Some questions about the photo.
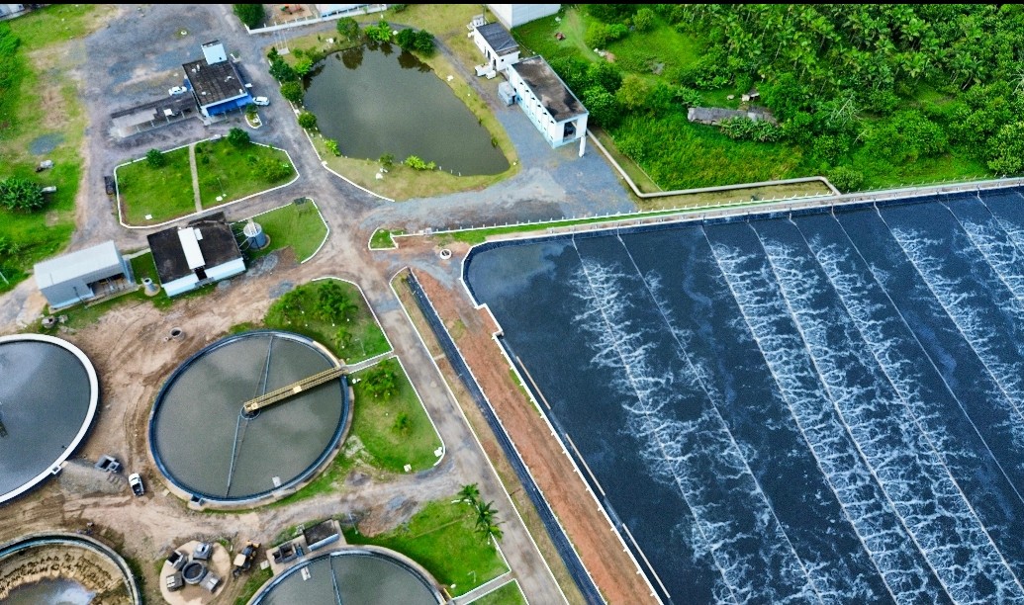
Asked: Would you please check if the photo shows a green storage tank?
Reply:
No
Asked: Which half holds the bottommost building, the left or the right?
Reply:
left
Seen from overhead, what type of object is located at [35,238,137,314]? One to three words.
shed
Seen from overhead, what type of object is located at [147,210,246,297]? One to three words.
building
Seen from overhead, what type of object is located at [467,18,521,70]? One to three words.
building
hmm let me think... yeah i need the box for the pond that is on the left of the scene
[305,46,507,177]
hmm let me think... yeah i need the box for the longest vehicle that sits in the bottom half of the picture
[230,540,264,578]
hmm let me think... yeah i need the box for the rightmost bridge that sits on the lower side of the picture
[239,362,350,416]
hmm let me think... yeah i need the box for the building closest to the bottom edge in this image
[266,517,344,569]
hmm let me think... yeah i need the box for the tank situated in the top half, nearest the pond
[233,221,272,254]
